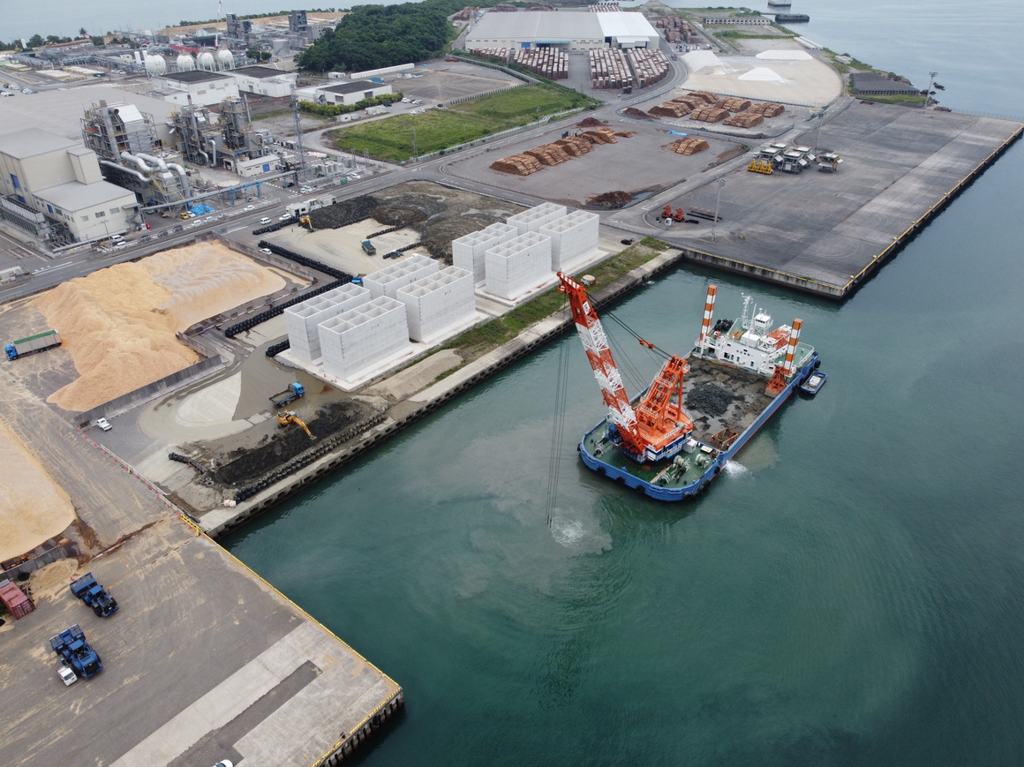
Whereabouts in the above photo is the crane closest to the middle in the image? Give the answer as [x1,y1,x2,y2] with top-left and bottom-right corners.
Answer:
[546,273,695,528]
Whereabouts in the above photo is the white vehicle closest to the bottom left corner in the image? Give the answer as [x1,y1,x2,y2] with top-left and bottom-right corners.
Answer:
[57,664,79,687]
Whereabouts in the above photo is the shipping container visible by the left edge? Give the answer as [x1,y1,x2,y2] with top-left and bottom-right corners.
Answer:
[0,572,38,621]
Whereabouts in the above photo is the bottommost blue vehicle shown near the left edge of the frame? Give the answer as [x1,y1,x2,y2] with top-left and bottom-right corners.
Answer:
[47,622,105,681]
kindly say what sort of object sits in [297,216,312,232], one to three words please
work vehicle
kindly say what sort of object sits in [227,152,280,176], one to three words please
shed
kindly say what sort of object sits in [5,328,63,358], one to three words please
truck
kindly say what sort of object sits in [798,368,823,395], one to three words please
boat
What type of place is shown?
port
